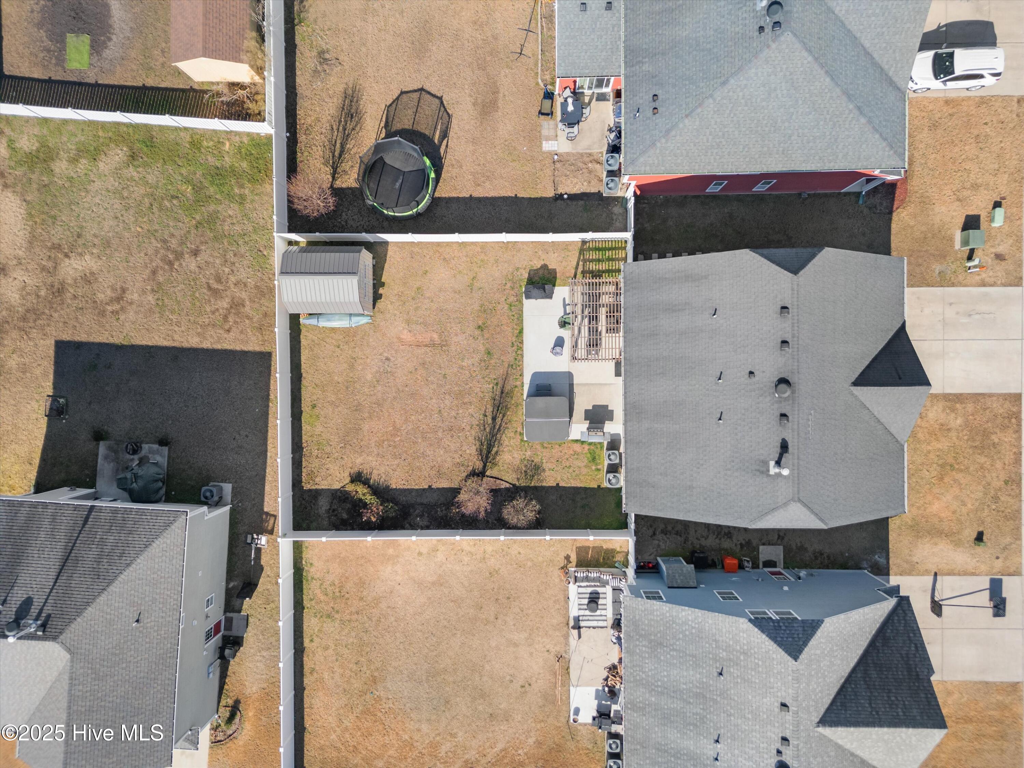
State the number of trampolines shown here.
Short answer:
1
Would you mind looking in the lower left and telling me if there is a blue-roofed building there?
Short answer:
No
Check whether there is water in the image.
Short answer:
No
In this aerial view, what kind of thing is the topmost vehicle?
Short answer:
automobile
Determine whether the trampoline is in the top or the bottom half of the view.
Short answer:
top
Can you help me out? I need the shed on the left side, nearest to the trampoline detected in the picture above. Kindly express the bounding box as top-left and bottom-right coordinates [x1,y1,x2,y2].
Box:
[279,245,377,315]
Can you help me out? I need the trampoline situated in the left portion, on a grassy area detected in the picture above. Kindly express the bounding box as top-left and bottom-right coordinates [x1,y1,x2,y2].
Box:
[356,135,436,220]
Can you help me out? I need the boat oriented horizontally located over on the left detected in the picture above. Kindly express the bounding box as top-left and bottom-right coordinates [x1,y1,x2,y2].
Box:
[300,314,372,328]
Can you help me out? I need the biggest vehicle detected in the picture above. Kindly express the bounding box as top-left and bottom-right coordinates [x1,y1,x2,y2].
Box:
[909,42,1006,91]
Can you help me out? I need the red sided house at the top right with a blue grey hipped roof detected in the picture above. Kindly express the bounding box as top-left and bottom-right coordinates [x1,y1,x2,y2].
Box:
[619,0,934,207]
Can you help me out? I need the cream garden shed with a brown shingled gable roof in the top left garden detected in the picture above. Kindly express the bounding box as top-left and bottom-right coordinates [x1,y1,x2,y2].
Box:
[171,0,261,82]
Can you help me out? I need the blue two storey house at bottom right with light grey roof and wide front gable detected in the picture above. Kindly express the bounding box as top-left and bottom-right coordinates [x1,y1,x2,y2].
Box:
[619,557,949,768]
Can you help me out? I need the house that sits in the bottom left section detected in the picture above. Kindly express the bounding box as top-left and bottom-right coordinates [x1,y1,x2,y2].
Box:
[0,470,231,768]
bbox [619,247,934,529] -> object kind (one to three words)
house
